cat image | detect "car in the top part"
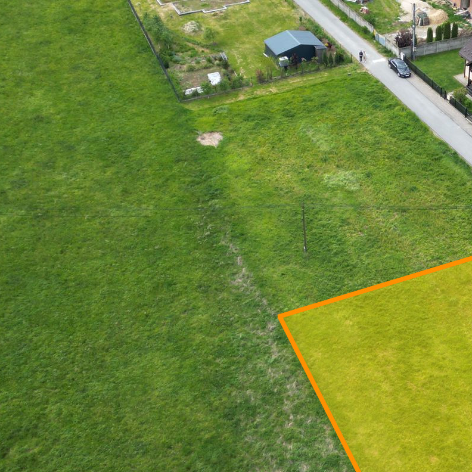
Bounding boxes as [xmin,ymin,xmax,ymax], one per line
[387,58,411,77]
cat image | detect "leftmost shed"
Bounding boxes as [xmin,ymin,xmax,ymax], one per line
[263,29,325,69]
